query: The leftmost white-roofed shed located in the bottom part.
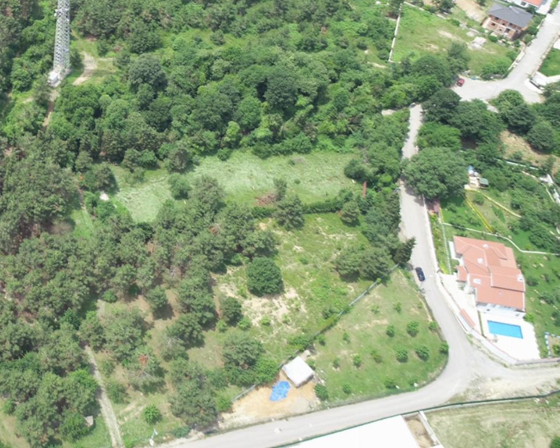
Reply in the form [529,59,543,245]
[281,356,316,390]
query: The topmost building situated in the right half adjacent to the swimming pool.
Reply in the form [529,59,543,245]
[448,236,528,319]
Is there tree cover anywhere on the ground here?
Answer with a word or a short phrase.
Yes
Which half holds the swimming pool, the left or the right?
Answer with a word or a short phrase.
right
